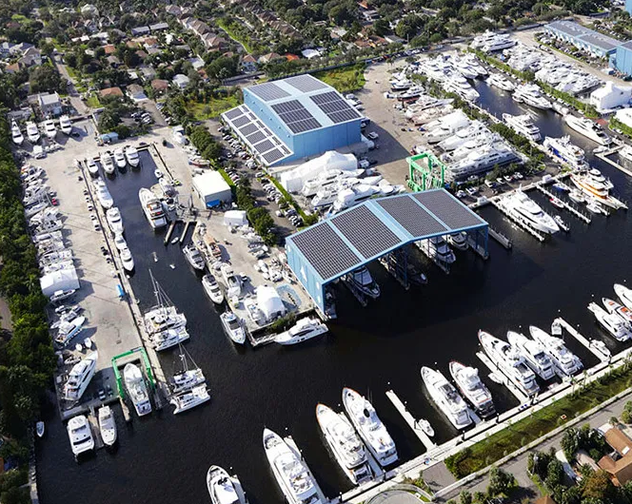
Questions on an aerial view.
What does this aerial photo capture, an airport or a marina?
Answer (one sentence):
The picture captures a marina.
